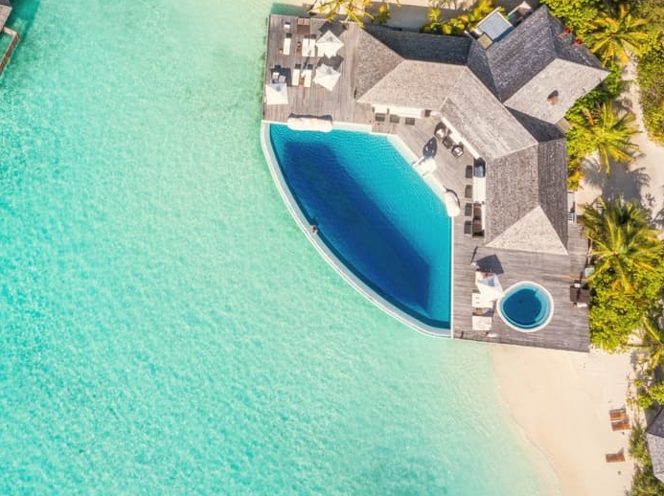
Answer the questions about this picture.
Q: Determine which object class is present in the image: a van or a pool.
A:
pool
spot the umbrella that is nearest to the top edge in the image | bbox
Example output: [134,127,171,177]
[311,28,344,61]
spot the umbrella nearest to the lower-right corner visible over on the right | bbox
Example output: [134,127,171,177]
[471,268,506,302]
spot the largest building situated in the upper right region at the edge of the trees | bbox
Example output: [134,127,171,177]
[357,4,610,255]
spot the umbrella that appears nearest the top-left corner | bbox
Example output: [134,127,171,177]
[264,83,289,107]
